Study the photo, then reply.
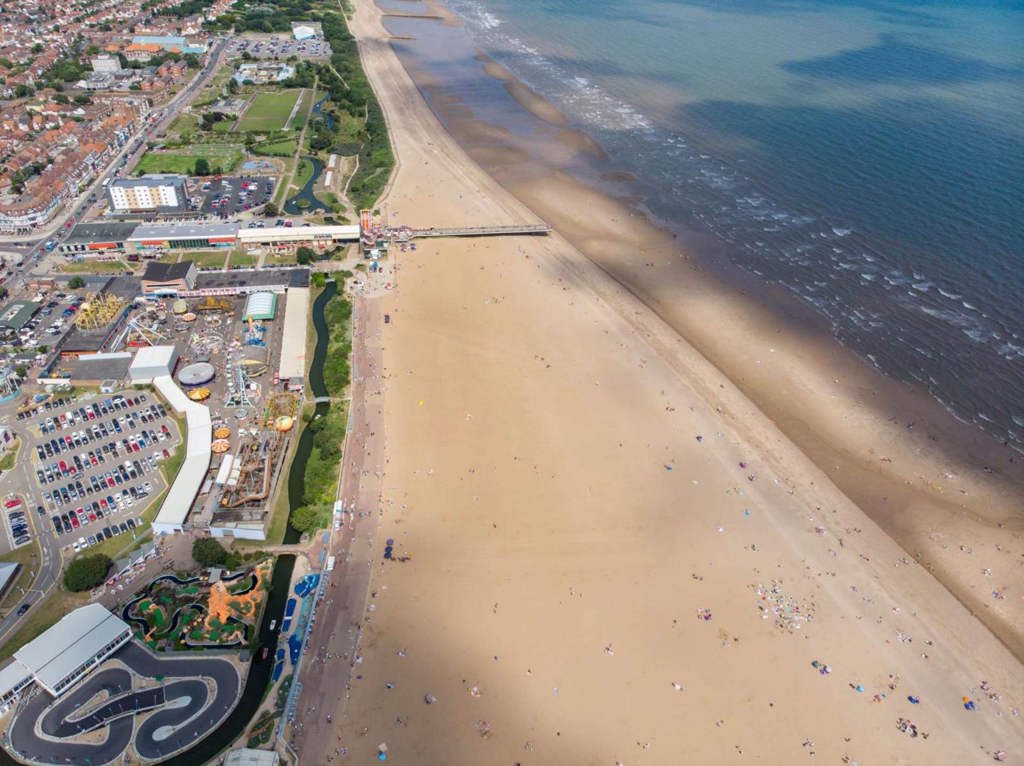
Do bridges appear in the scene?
Yes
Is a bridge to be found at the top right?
No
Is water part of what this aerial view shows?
Yes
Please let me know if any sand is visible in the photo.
Yes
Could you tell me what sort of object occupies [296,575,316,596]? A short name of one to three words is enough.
swimming pool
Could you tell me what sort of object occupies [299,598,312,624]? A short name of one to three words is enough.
swimming pool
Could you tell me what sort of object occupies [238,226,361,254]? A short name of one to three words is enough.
building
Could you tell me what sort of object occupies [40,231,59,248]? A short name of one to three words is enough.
vehicle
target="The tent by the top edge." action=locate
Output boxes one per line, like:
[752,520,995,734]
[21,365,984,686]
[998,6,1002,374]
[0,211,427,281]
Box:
[292,23,315,39]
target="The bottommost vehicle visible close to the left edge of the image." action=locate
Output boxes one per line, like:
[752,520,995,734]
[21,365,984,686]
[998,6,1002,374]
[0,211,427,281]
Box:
[15,601,32,616]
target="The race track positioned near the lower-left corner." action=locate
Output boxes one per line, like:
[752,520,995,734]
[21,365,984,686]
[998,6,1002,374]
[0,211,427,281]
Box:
[10,643,239,766]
